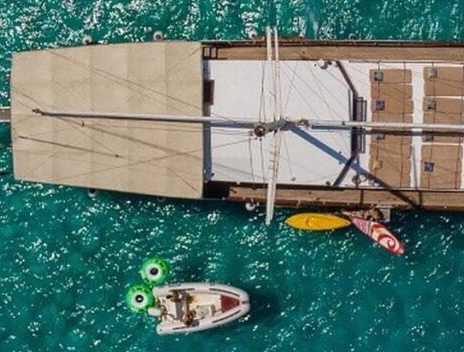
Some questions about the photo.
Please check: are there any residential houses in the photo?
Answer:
No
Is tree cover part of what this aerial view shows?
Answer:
No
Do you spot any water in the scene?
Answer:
Yes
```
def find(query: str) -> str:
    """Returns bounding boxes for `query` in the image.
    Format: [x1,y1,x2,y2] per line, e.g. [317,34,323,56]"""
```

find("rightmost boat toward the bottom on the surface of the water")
[286,212,350,230]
